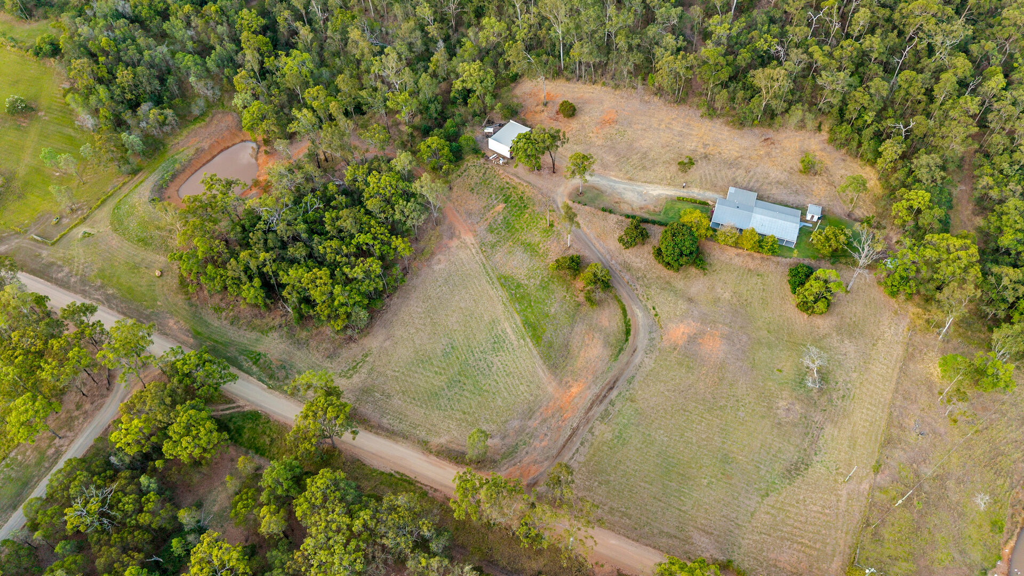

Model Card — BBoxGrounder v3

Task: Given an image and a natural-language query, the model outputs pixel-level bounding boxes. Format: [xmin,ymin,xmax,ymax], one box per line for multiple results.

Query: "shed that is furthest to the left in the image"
[488,118,529,158]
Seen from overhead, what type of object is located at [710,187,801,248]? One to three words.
house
